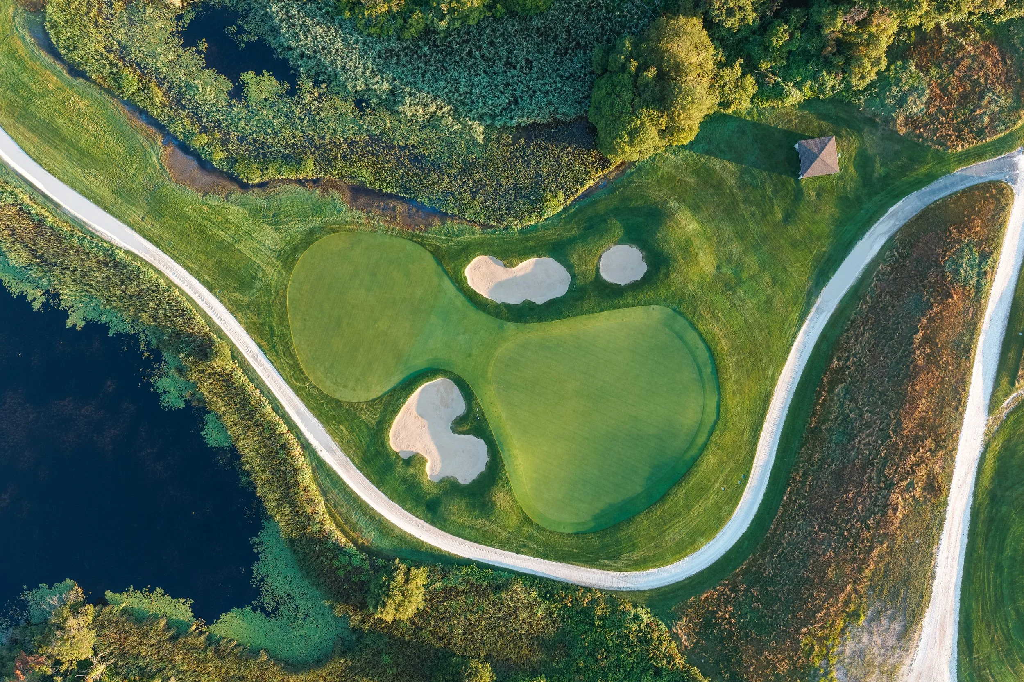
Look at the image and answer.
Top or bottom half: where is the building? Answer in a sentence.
The building sits in the top half of the picture.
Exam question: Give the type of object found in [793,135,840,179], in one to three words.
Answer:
building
